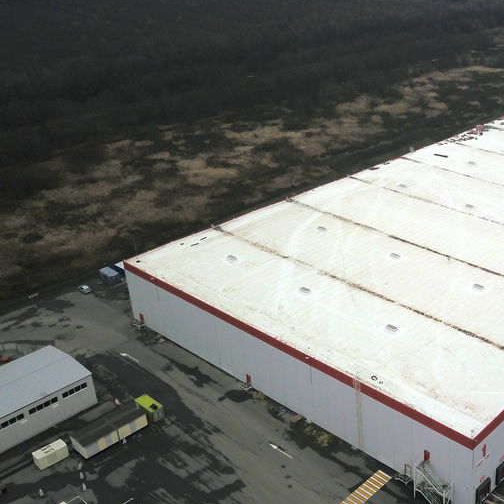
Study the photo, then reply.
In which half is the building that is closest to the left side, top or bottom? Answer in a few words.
bottom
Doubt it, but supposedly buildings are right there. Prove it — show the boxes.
[0,344,99,453]
[121,116,504,504]
[69,403,148,458]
